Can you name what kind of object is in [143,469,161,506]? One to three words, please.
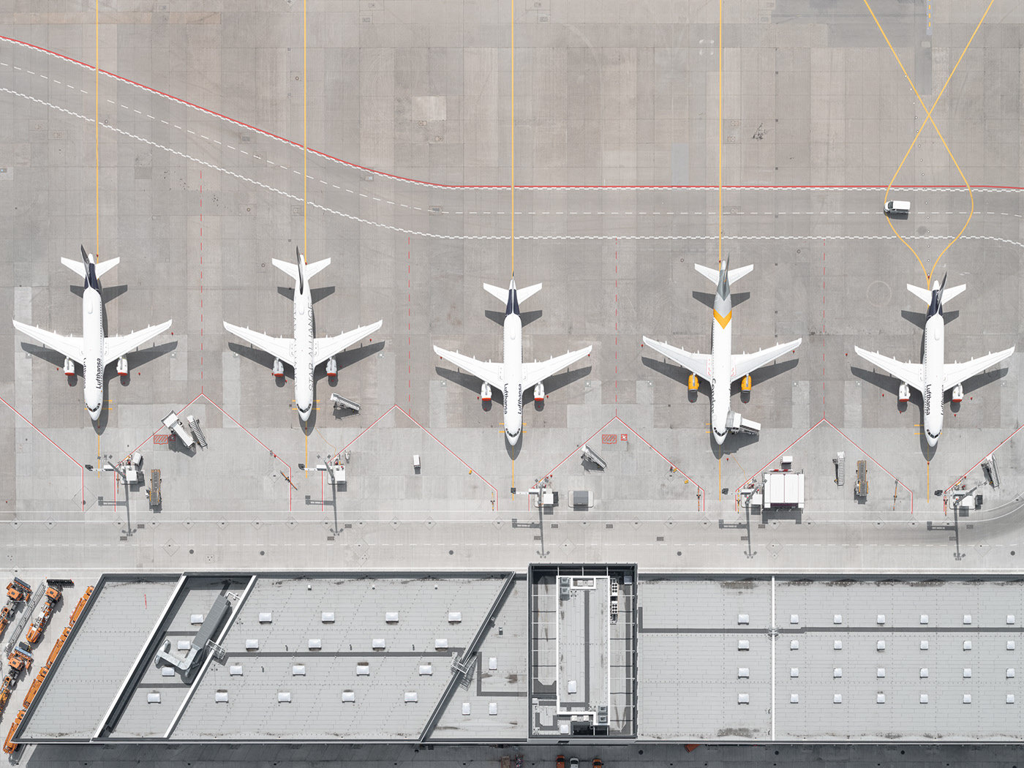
work vehicle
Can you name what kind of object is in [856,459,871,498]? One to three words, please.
work vehicle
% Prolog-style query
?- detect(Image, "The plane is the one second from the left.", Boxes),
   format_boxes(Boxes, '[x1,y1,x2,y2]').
[223,247,383,421]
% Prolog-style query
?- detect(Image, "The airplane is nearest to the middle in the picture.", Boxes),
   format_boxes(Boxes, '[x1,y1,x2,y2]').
[433,276,593,446]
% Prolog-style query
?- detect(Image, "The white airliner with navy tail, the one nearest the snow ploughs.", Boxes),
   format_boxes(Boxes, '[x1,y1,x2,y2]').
[12,245,173,420]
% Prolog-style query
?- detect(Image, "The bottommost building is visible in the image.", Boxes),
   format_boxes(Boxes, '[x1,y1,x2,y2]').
[9,563,1024,749]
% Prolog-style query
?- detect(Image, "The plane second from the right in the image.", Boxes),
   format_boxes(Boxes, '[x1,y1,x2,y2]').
[642,252,802,445]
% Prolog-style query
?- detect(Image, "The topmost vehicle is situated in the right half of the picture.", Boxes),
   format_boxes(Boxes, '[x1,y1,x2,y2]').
[885,202,912,216]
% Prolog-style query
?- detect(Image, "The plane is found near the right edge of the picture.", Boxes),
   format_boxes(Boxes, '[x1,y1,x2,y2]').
[854,273,1015,446]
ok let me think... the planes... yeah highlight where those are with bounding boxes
[854,273,1015,446]
[12,245,173,420]
[223,247,383,421]
[433,276,593,446]
[642,252,802,445]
